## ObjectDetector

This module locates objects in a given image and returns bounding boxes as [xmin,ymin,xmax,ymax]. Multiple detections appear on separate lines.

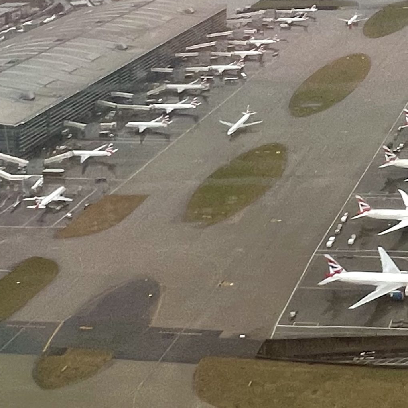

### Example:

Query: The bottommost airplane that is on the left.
[29,187,69,206]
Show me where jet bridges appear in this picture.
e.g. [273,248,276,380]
[110,91,134,104]
[0,152,32,171]
[146,83,171,96]
[207,30,233,41]
[0,168,29,187]
[227,18,253,27]
[96,99,155,113]
[151,68,174,77]
[62,120,88,132]
[228,41,251,49]
[210,53,235,61]
[262,19,277,26]
[186,41,216,53]
[43,148,79,166]
[175,53,199,62]
[26,178,46,193]
[235,9,264,16]
[185,67,214,75]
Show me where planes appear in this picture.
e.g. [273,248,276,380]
[319,248,408,312]
[231,46,265,57]
[354,188,408,236]
[210,60,248,72]
[220,104,263,136]
[29,187,69,206]
[75,143,120,162]
[168,77,213,94]
[343,13,366,23]
[152,95,202,113]
[125,115,173,132]
[248,34,279,46]
[277,13,310,23]
[379,146,408,168]
[292,5,318,13]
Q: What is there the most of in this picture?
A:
paved ground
